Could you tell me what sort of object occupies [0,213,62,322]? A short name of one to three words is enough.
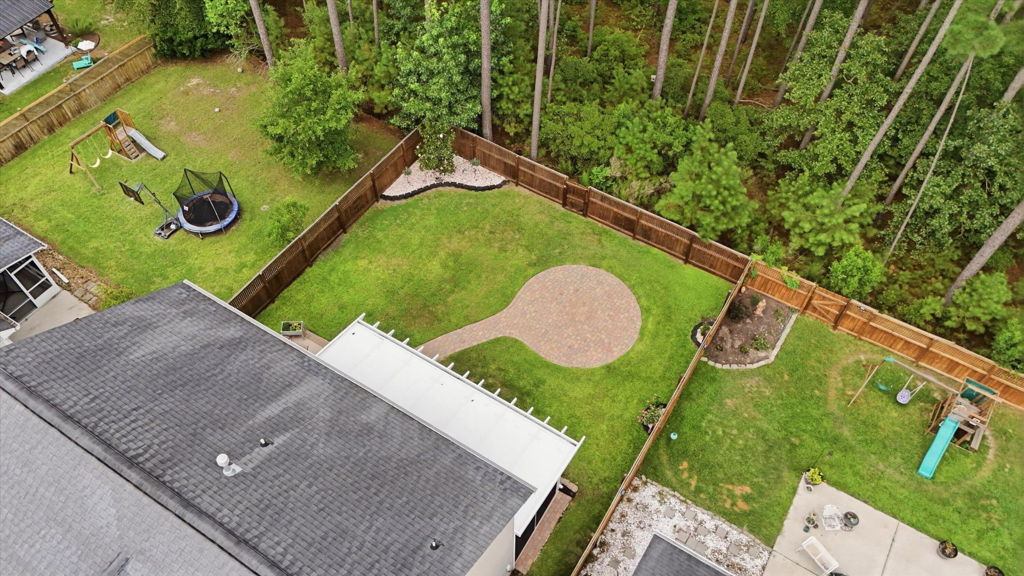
house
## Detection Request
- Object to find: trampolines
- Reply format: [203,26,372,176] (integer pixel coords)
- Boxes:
[173,169,241,241]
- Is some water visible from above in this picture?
No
